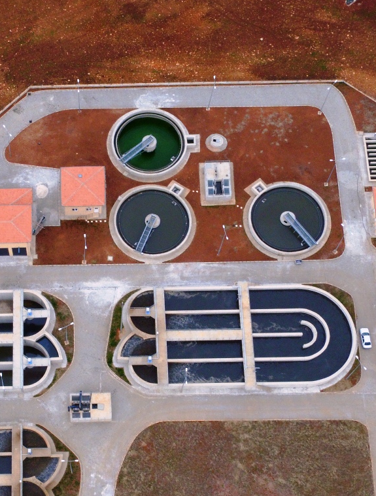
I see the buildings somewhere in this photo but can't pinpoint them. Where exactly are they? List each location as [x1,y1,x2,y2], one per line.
[364,185,376,238]
[198,159,236,206]
[0,187,36,266]
[60,166,107,219]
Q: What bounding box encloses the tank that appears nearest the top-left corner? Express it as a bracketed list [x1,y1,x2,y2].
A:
[107,108,202,182]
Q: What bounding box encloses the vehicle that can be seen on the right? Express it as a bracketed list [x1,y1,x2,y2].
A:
[361,327,374,348]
